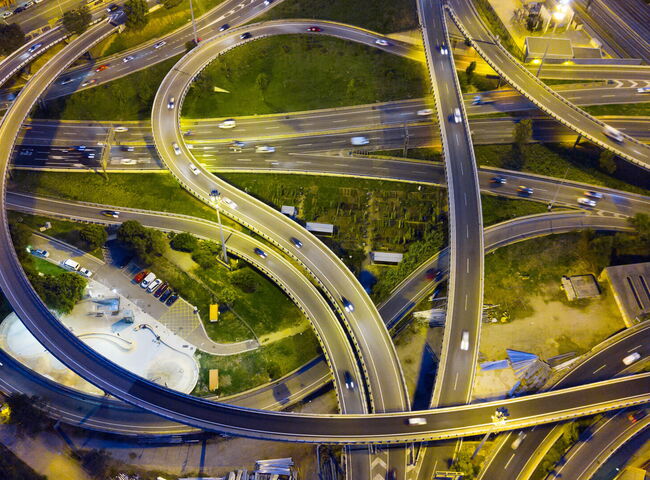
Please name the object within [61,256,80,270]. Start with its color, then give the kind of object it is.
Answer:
white vehicle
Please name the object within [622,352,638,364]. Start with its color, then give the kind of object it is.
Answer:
white vehicle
